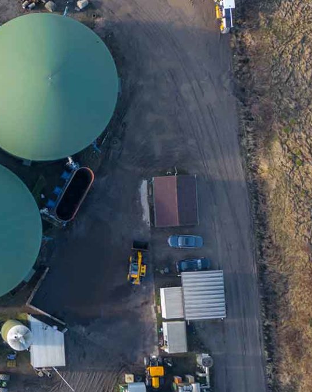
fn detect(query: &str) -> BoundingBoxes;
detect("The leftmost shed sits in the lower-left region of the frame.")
[24,312,65,368]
